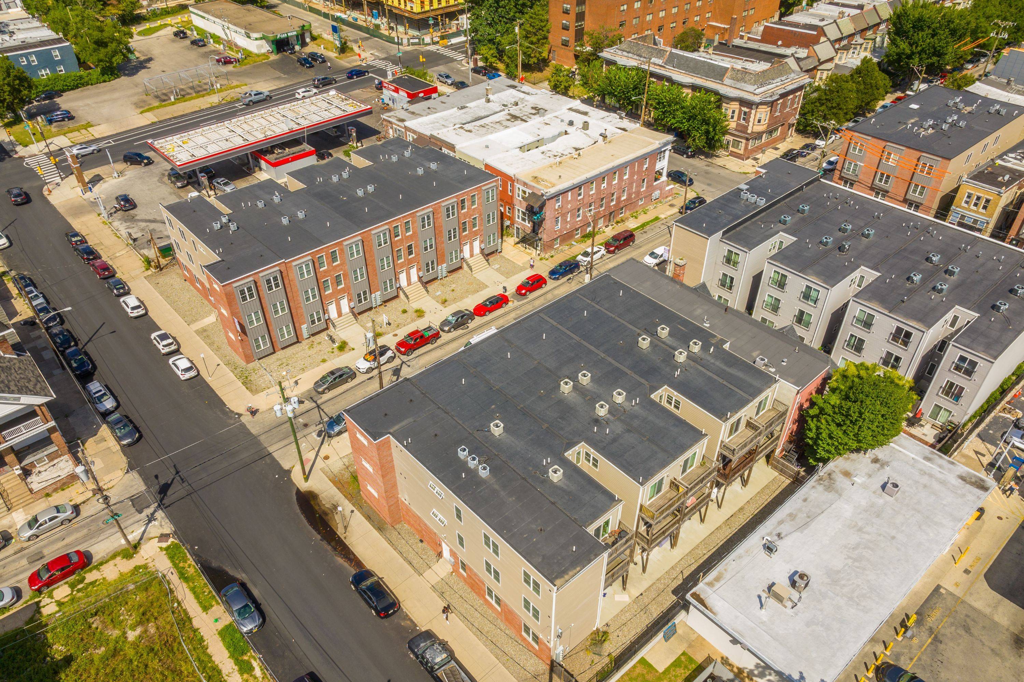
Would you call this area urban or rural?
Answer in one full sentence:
The land in this view is best described as urban.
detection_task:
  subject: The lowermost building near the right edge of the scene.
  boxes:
[678,431,1002,682]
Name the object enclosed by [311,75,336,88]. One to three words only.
vehicle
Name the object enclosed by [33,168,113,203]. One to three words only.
gas station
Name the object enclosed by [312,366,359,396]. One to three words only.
car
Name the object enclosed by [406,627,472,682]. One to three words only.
truck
